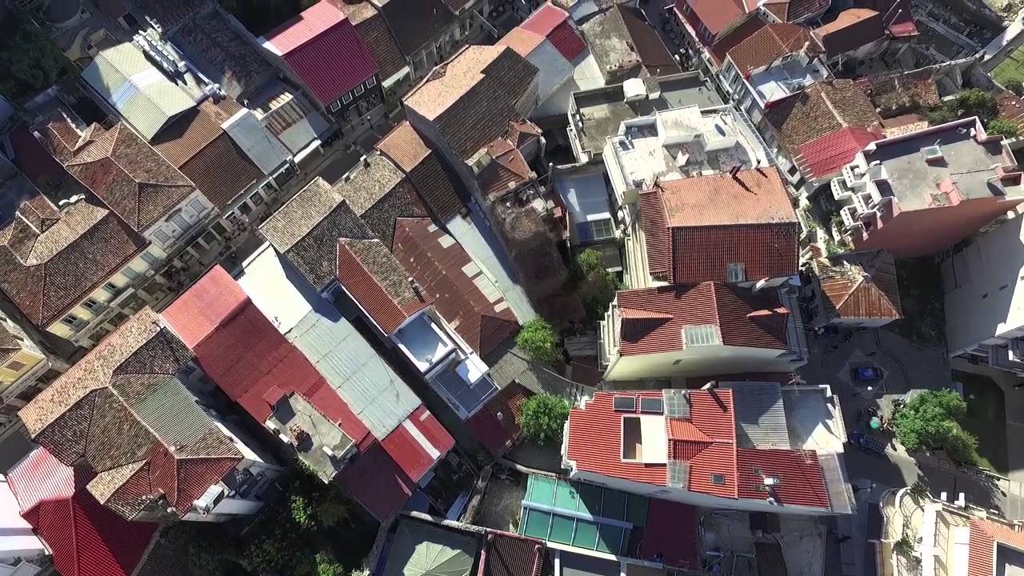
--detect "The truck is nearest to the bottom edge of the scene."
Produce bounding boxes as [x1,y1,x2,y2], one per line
[847,430,895,458]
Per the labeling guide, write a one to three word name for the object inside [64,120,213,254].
house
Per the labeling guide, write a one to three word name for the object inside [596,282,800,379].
house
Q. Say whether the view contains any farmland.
No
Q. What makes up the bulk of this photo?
buildings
